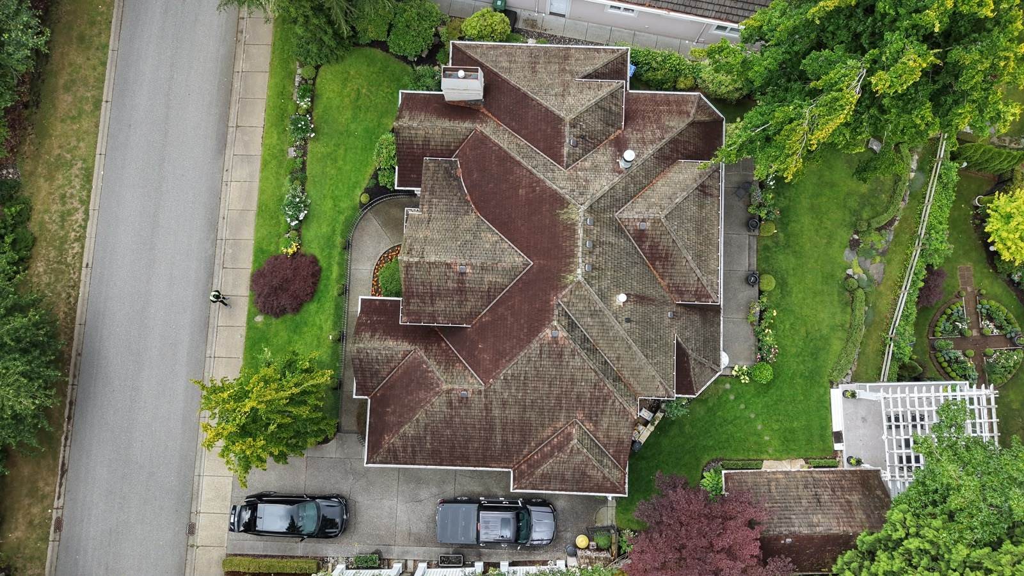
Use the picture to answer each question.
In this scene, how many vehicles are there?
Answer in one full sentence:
Altogether the scene contains 2 vehicles.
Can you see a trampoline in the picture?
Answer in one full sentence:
No, no trampoline is visible in the scene.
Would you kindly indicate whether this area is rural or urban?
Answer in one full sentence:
The area shown here is urban.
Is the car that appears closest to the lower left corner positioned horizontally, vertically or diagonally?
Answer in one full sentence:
The car that appears closest to the lower left corner is laid out horizontally.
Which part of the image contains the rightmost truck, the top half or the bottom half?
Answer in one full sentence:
The rightmost truck is in the bottom half of the image.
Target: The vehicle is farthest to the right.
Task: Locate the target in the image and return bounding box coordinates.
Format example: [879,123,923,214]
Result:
[431,494,562,556]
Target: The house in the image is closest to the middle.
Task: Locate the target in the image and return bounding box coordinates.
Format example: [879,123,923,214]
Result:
[351,40,727,499]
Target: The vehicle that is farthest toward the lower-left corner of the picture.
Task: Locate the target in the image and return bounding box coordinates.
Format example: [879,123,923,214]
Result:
[228,490,350,547]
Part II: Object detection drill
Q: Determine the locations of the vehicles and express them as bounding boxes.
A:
[228,490,350,547]
[431,494,562,556]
